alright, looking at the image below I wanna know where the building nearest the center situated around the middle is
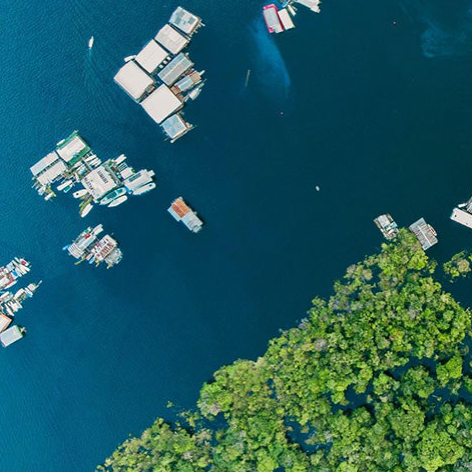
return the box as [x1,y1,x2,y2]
[172,197,205,230]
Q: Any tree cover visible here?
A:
Yes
